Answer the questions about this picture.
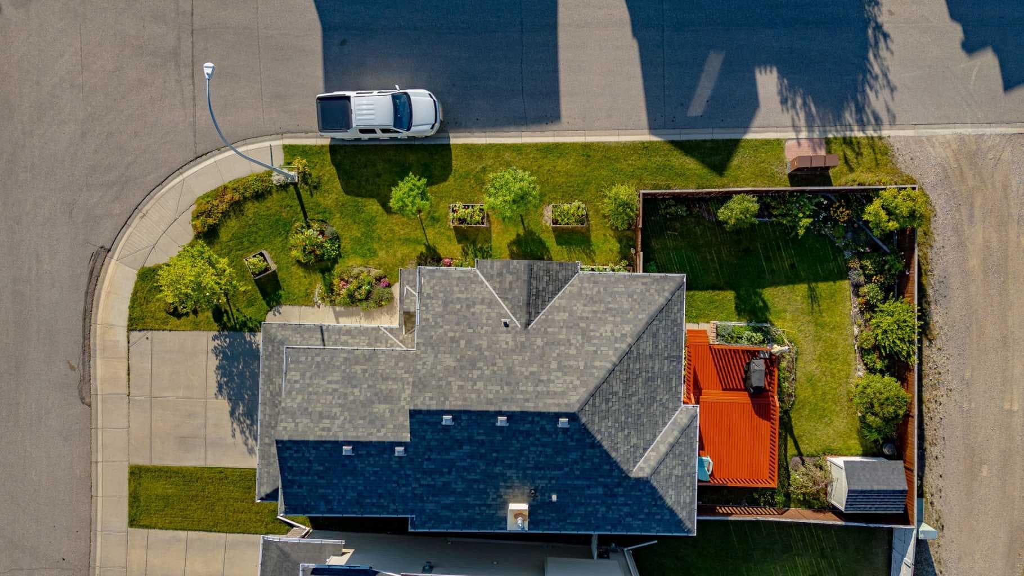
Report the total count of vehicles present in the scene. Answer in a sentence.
The picture shows just 1 vehicle.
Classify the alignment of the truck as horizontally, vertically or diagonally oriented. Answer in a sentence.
What the image shows is the truck lying horizontally.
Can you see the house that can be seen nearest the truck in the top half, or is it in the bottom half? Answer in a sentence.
The bottom half of the photo is where the house that can be seen nearest the truck is.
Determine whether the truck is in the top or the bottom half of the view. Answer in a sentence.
It is in the top half that the truck appears.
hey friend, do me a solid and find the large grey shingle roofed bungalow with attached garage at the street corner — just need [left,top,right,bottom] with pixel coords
[255,260,700,537]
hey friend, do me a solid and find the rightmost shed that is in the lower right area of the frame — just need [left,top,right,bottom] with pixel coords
[827,453,911,514]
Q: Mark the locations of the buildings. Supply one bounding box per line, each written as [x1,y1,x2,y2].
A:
[258,531,663,576]
[255,260,700,537]
[827,453,911,514]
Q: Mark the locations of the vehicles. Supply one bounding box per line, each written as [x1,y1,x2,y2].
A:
[316,85,444,142]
